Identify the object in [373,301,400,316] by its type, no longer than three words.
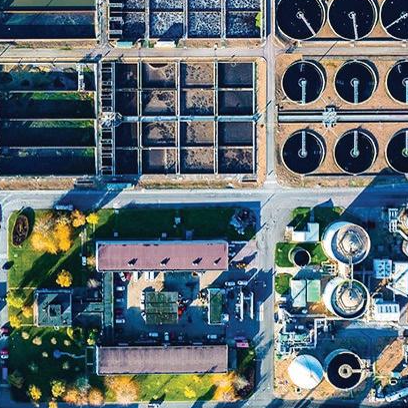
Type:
building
